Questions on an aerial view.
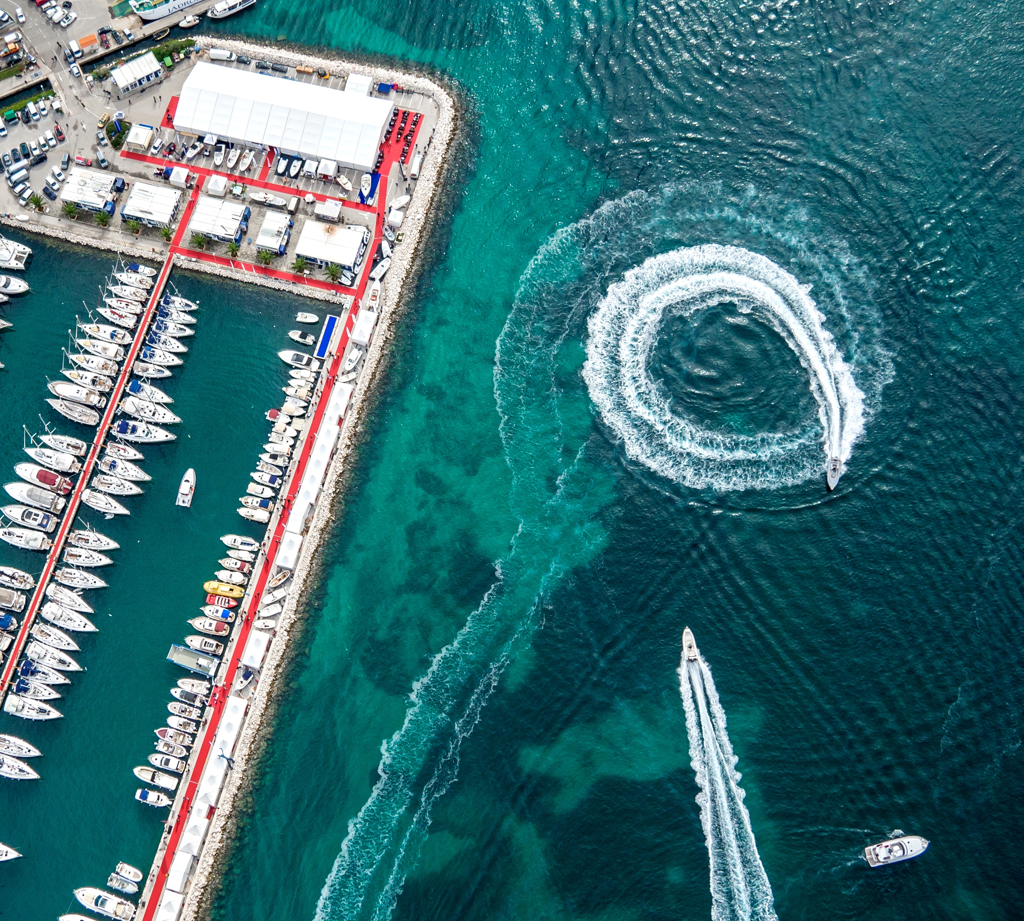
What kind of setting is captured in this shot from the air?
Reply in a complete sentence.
The area seen from above is a port.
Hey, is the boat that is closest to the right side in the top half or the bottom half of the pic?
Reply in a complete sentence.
The boat that is closest to the right side sits in the bottom half of the picture.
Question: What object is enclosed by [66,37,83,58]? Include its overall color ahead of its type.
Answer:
white vehicle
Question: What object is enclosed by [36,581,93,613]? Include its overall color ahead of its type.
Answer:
white boat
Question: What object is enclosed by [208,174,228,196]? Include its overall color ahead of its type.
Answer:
white tent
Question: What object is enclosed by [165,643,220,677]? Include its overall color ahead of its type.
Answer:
white ship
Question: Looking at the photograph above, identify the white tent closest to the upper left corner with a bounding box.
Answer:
[127,126,153,149]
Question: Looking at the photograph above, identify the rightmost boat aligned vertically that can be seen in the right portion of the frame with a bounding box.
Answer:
[828,457,840,490]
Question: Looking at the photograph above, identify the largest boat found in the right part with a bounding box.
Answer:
[860,837,932,868]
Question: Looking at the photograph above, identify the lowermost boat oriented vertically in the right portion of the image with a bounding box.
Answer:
[684,626,697,662]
